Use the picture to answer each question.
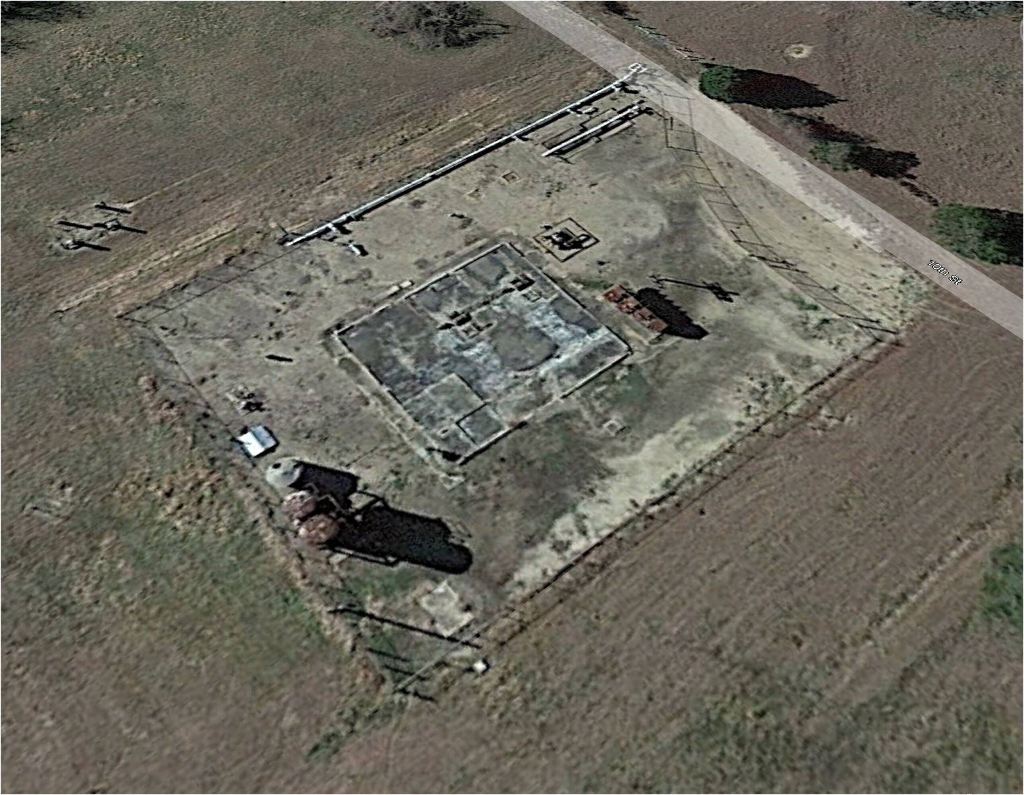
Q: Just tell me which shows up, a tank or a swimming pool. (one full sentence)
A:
This aerial view contains a tank.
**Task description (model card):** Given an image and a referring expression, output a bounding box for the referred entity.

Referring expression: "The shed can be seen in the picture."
[238,425,276,457]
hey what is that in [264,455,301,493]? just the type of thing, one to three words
storage tank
